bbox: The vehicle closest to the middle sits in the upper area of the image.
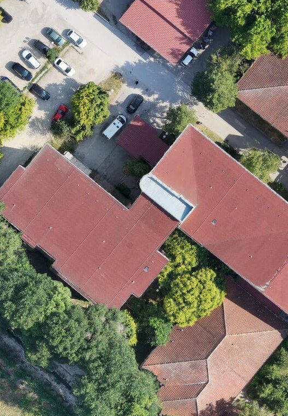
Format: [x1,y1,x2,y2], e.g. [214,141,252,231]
[100,115,126,140]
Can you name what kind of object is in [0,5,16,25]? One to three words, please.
car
